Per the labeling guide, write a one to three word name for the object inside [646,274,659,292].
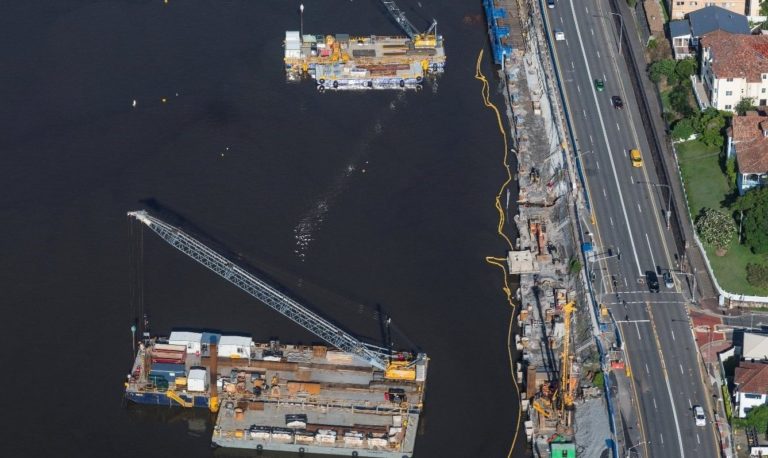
vehicle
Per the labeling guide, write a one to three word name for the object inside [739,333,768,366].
building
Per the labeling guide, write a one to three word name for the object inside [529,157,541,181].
vehicle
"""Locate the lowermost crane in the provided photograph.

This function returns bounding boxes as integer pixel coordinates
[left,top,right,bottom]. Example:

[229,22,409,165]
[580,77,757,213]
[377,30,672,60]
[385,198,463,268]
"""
[125,208,428,391]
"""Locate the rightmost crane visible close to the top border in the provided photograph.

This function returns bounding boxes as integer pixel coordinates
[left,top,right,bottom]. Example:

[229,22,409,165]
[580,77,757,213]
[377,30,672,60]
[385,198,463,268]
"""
[372,0,443,58]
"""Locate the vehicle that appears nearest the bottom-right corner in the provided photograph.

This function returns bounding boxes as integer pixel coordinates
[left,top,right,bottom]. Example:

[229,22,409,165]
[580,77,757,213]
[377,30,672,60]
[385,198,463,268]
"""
[692,408,706,425]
